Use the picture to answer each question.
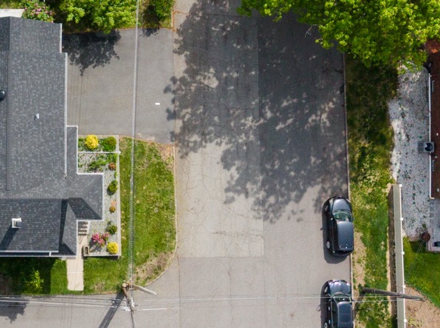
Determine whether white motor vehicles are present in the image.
No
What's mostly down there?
paved ground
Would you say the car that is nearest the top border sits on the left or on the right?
right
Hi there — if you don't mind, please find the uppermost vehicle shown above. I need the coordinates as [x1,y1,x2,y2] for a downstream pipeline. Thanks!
[324,197,358,258]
